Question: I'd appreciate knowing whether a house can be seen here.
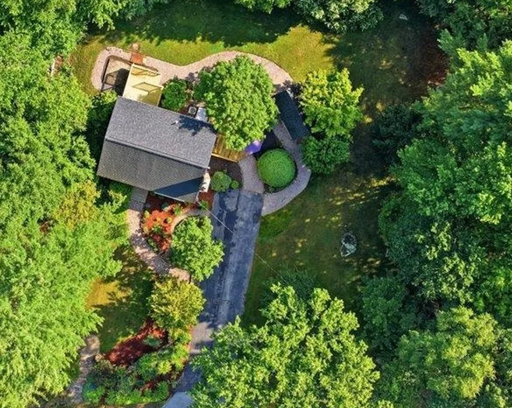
Yes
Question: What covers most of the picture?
trees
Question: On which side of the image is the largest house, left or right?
left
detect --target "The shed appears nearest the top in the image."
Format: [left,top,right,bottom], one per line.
[274,89,311,140]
